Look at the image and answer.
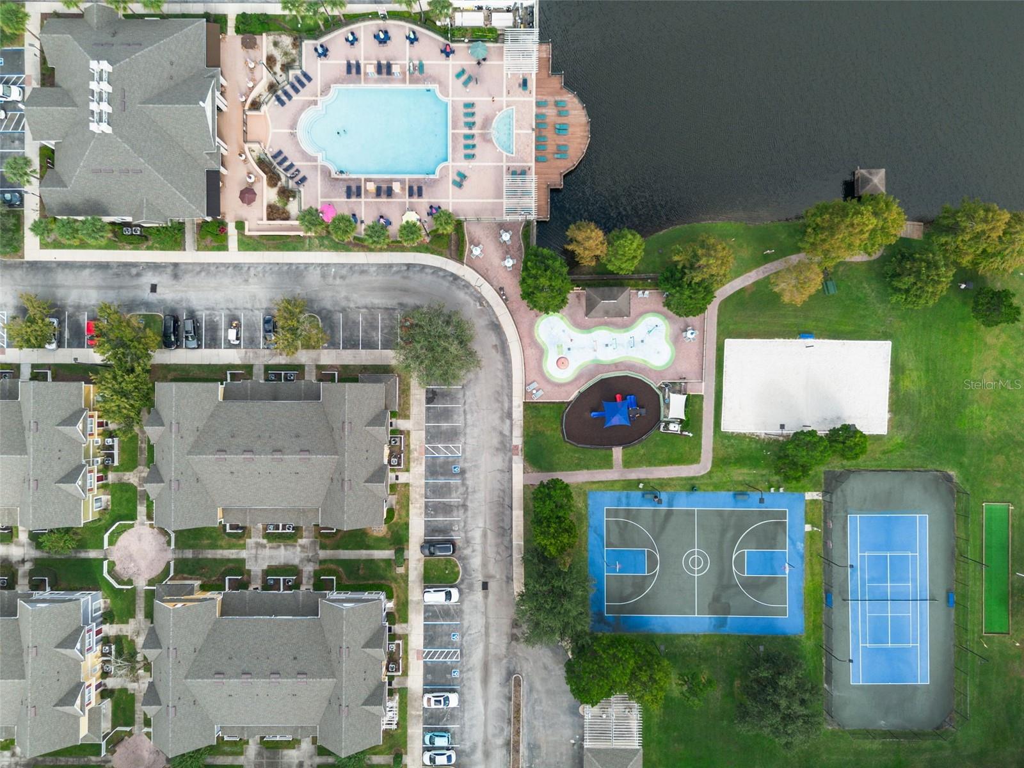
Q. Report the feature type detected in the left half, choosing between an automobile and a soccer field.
automobile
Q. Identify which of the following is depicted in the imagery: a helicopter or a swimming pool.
swimming pool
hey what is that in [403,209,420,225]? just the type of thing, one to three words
umbrella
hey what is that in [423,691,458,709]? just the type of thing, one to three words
car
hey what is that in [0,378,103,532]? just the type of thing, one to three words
house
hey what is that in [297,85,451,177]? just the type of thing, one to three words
swimming pool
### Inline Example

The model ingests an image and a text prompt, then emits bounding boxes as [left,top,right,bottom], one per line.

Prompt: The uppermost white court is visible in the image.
[721,339,892,435]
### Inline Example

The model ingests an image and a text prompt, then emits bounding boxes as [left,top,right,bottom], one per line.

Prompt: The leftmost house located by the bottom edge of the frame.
[0,590,112,757]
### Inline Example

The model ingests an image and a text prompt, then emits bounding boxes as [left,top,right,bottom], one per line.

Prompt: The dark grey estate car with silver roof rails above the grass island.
[420,541,455,558]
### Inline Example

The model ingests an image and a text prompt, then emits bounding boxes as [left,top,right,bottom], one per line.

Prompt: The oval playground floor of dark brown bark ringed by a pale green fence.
[561,369,664,449]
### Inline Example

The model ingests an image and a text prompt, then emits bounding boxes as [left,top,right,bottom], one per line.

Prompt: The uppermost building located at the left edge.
[15,6,229,230]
